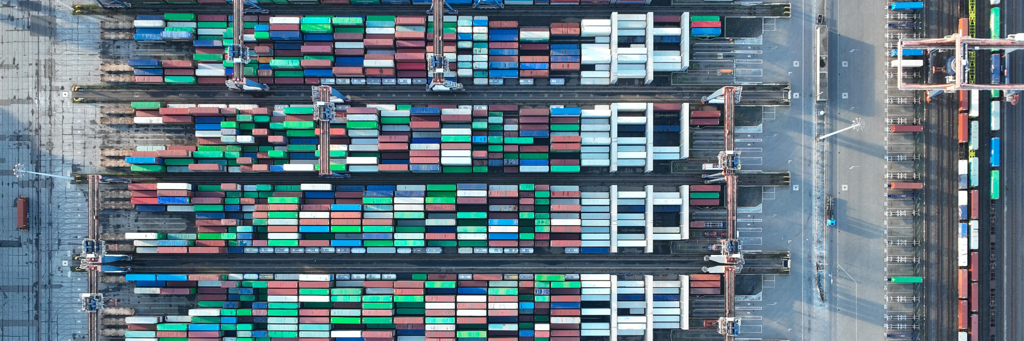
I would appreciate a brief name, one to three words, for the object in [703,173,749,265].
crane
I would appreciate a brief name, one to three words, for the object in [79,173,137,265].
crane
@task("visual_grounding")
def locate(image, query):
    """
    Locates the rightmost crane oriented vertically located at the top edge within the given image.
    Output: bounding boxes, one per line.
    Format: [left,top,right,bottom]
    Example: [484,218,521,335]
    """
[427,0,460,90]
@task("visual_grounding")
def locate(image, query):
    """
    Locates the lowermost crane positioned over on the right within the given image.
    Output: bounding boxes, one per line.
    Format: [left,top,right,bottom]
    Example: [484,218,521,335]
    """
[701,265,745,341]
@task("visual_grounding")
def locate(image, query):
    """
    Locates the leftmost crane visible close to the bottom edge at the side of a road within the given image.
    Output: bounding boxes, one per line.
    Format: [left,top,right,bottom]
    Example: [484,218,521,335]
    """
[75,265,137,341]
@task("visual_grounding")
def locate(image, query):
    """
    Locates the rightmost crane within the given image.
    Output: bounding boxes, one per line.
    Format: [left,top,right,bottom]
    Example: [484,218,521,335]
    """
[897,31,1024,106]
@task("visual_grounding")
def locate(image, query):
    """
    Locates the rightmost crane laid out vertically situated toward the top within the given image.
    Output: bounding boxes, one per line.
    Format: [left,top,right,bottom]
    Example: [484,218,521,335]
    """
[700,84,743,179]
